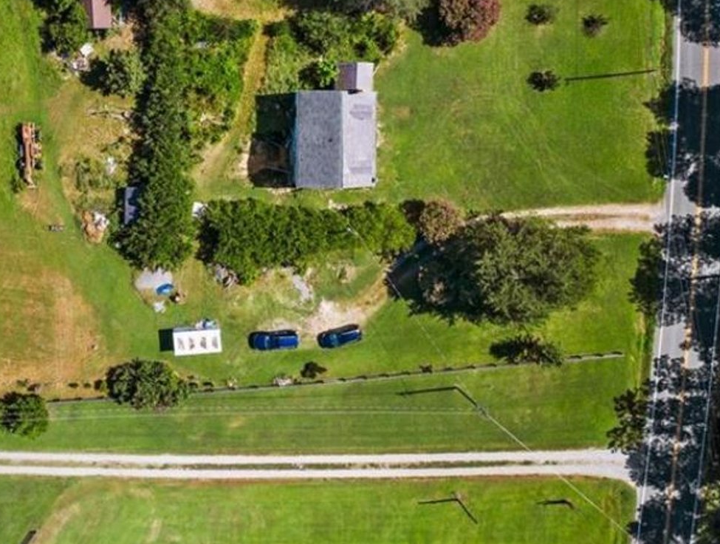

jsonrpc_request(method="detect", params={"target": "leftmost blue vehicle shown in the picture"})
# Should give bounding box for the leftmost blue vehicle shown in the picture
[253,332,300,354]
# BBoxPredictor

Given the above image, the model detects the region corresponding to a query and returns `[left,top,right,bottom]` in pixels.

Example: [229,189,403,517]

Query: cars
[253,332,300,354]
[317,324,366,353]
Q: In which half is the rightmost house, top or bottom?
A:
top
